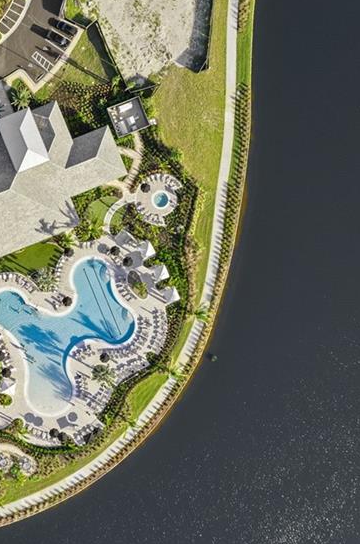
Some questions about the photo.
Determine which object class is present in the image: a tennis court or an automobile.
automobile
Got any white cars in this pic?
No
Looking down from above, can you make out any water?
Yes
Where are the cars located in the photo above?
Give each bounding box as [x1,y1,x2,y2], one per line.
[56,21,77,37]
[47,31,69,48]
